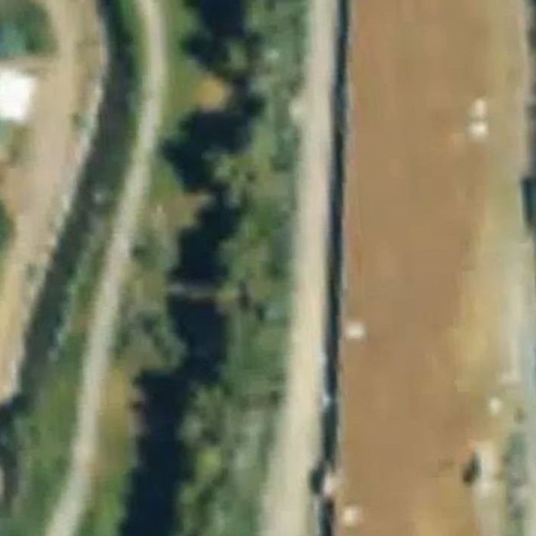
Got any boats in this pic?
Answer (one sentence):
No, this view has no boat in it.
